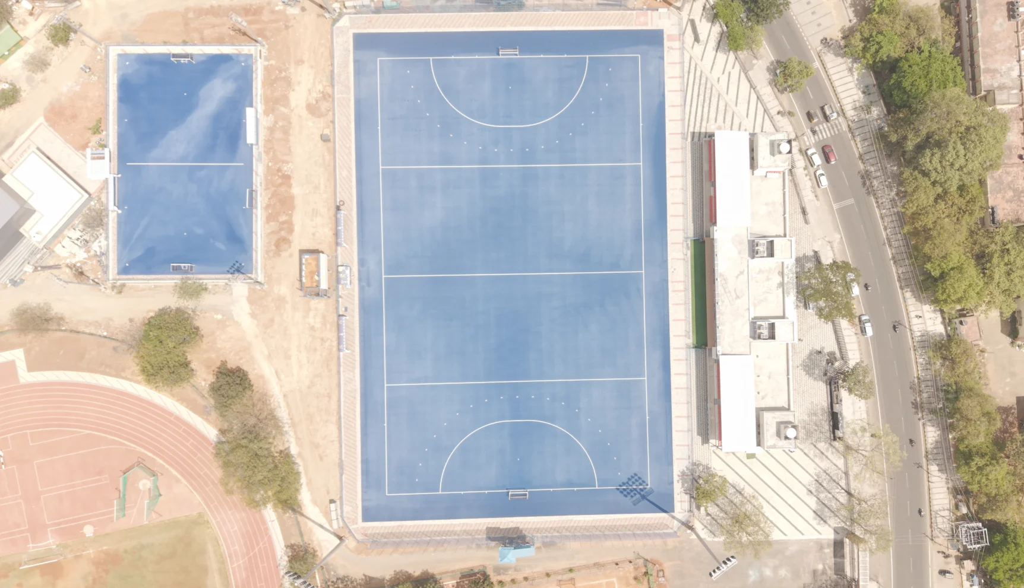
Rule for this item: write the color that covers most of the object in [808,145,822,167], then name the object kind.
white car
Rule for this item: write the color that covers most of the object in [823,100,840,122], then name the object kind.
white vehicle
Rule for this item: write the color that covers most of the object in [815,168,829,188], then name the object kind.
white car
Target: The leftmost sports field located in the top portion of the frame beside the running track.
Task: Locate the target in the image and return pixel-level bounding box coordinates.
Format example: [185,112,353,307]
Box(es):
[111,48,262,278]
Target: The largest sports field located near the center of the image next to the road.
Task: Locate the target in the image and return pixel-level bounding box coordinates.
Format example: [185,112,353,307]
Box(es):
[337,12,691,539]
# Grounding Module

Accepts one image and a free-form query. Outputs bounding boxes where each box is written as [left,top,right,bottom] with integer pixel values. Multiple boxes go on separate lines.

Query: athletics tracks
[0,349,291,588]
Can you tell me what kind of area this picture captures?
sports ground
